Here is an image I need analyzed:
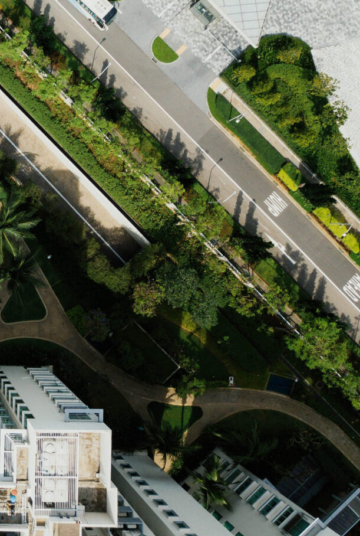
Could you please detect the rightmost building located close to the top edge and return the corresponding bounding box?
[206,0,271,48]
